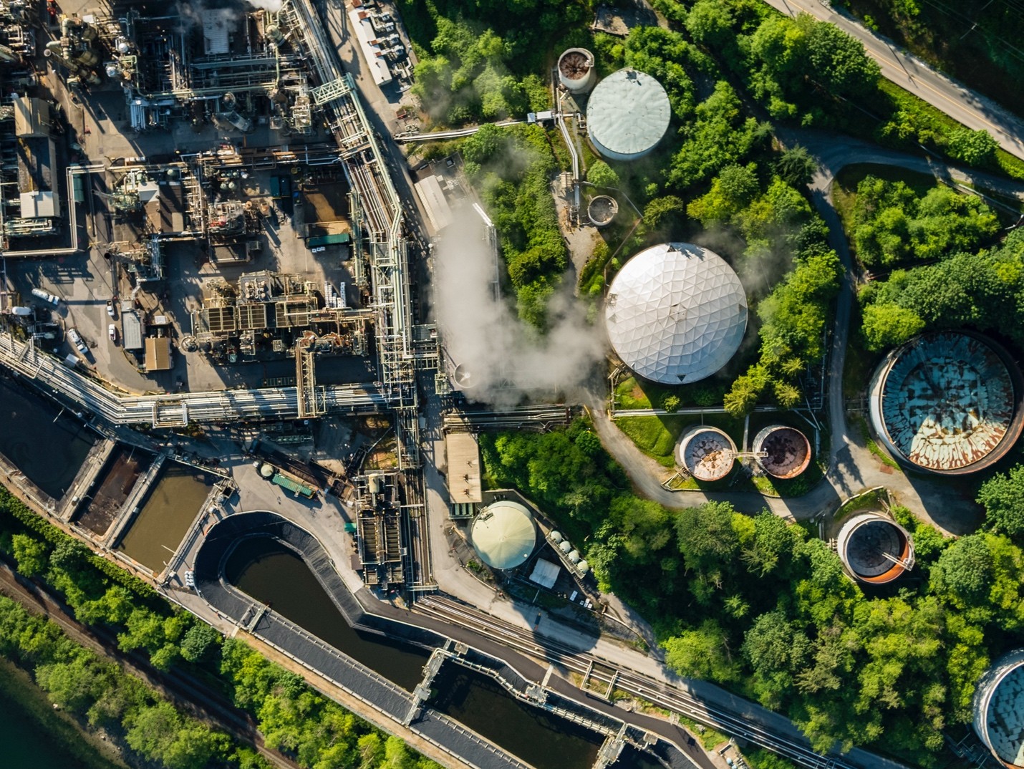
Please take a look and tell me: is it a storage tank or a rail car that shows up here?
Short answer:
storage tank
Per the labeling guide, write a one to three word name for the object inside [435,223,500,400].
cooling tower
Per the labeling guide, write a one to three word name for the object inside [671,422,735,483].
storage tank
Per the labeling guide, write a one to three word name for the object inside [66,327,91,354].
truck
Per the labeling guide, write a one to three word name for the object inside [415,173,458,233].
shed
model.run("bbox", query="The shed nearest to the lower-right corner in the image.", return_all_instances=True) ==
[529,557,560,589]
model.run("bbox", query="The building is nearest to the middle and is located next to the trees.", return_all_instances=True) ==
[446,434,482,503]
